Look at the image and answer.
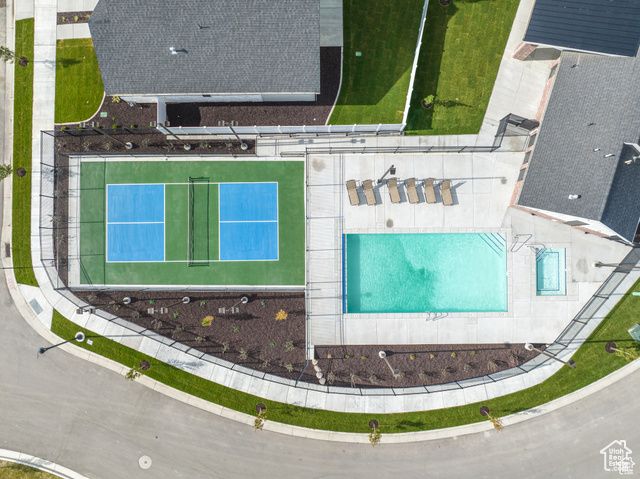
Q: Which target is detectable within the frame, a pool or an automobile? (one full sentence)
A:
Looking from above, you can make out a pool.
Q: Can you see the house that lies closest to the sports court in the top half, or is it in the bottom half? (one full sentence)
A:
The house that lies closest to the sports court sits in the top half of the picture.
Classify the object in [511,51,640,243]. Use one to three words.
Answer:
building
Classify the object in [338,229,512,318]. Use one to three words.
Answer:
swimming pool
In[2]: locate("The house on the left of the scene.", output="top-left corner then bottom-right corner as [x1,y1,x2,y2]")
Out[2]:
[91,0,321,103]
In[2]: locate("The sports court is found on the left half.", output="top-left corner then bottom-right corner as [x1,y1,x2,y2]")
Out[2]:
[69,155,306,291]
